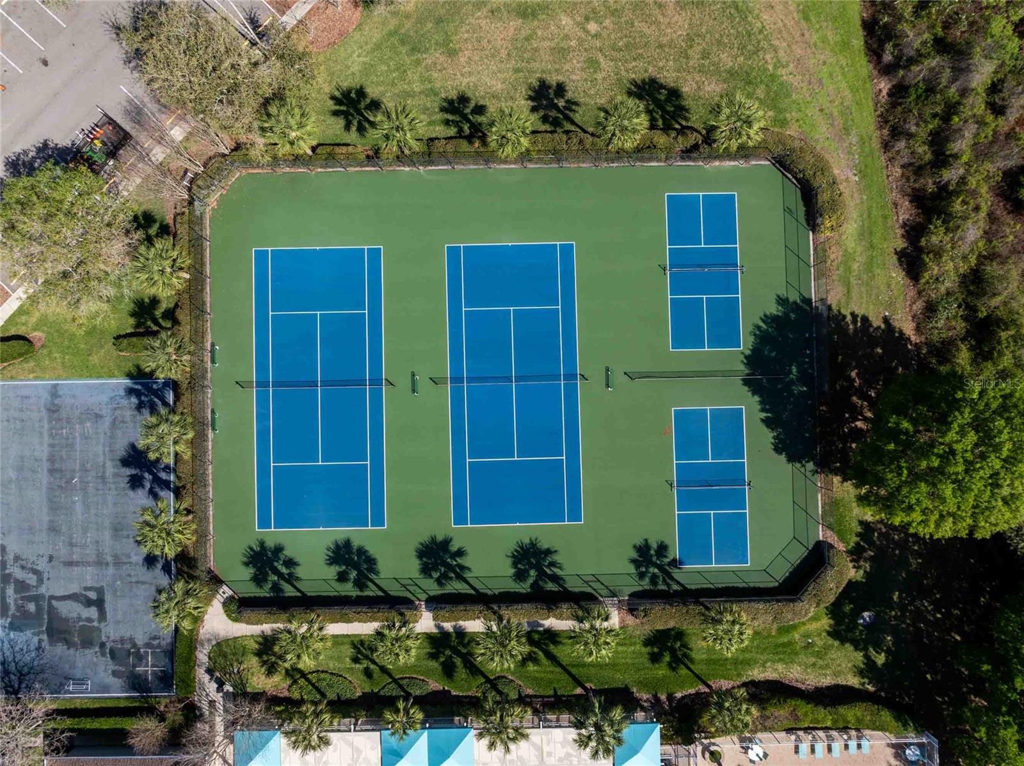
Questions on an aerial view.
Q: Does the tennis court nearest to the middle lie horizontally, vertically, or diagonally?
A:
vertically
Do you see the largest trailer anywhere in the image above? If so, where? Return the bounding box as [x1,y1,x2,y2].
[59,109,124,176]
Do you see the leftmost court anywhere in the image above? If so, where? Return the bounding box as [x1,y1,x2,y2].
[0,380,175,697]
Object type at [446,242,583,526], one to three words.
tennis court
